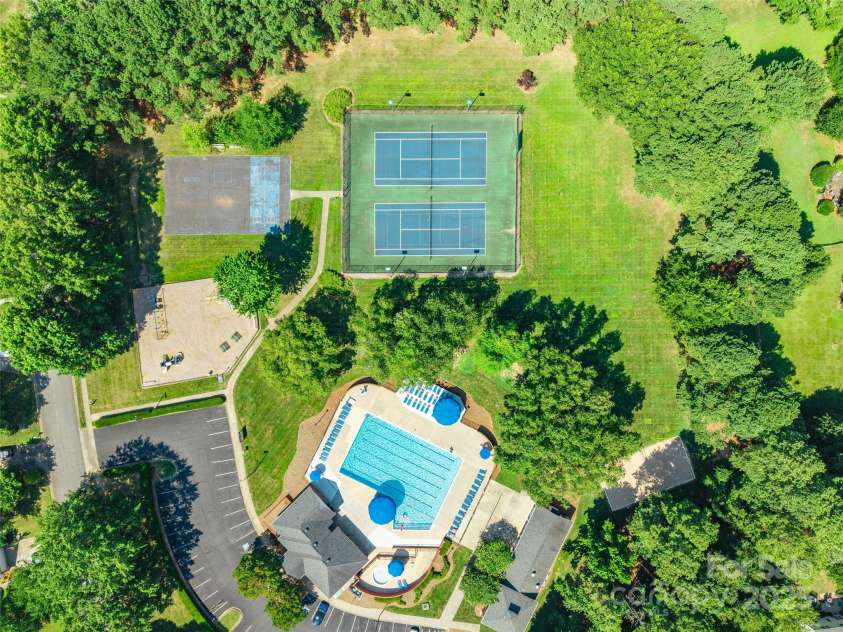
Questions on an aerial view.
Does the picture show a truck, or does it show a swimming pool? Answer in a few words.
swimming pool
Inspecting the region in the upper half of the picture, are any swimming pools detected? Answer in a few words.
No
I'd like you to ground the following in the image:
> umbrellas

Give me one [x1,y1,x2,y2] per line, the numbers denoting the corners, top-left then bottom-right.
[388,559,404,575]
[479,447,491,458]
[368,495,396,523]
[310,469,321,480]
[432,396,461,425]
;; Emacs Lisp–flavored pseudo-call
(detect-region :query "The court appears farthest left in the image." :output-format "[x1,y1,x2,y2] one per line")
[165,155,291,235]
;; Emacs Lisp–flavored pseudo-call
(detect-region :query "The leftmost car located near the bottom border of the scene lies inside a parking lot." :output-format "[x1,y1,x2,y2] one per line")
[312,602,328,626]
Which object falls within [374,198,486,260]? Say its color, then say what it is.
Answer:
blue tennis court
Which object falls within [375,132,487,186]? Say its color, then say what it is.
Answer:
blue tennis court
